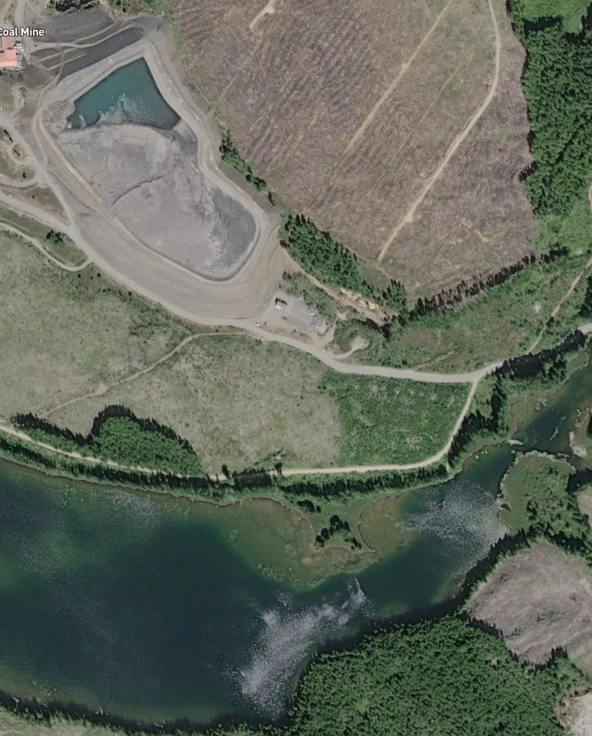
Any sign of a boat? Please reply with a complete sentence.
No, no boat is visible in the view.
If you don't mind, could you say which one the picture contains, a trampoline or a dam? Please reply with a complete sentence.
Looking from above, you can make out a dam.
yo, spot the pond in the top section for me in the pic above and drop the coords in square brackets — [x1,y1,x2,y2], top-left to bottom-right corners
[68,56,181,130]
